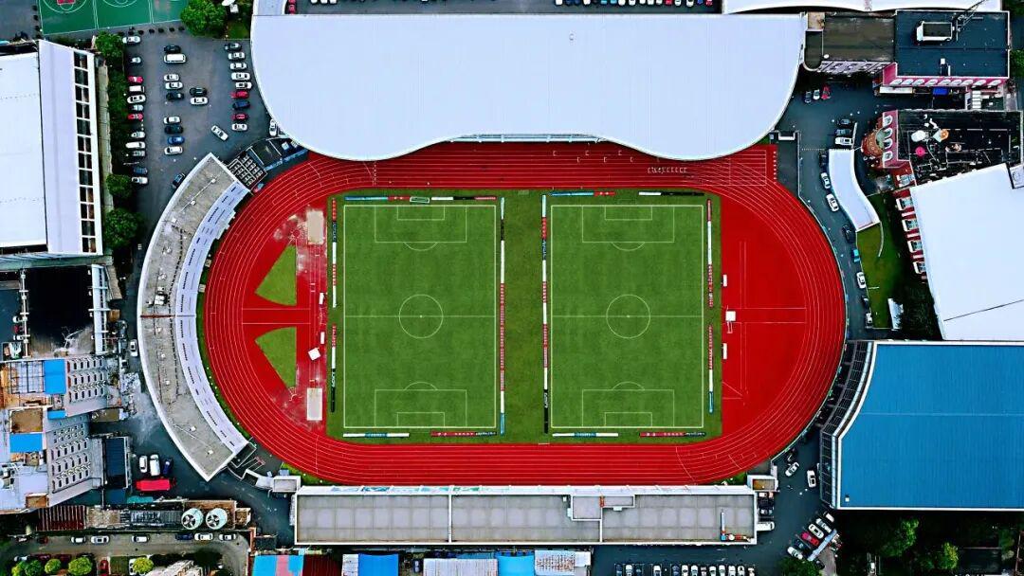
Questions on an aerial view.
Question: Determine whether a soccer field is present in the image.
Yes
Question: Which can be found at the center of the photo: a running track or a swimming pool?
running track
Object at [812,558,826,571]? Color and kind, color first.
black vehicle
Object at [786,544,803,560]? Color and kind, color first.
white car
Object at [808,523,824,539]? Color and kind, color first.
white car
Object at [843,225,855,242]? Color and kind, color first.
black vehicle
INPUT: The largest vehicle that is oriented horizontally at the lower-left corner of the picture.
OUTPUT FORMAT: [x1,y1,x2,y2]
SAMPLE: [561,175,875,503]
[136,477,176,489]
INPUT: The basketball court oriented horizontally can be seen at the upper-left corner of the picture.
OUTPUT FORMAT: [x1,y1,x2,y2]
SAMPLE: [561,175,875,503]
[40,0,187,34]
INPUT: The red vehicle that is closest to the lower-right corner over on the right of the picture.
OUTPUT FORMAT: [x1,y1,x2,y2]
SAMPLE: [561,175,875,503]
[801,530,819,546]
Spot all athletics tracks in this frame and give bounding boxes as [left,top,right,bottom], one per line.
[205,142,845,485]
